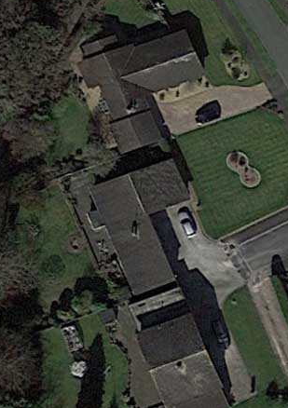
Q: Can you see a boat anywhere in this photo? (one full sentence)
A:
No, there isn't any boat down there.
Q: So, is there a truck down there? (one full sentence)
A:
No, there's no truck here.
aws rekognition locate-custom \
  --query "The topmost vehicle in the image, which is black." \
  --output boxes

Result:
[195,102,223,121]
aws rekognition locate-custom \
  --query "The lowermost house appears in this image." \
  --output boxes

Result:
[136,313,230,408]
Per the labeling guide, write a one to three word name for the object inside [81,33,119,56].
shed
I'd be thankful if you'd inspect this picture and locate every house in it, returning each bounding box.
[136,313,230,408]
[91,159,191,296]
[78,28,203,155]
